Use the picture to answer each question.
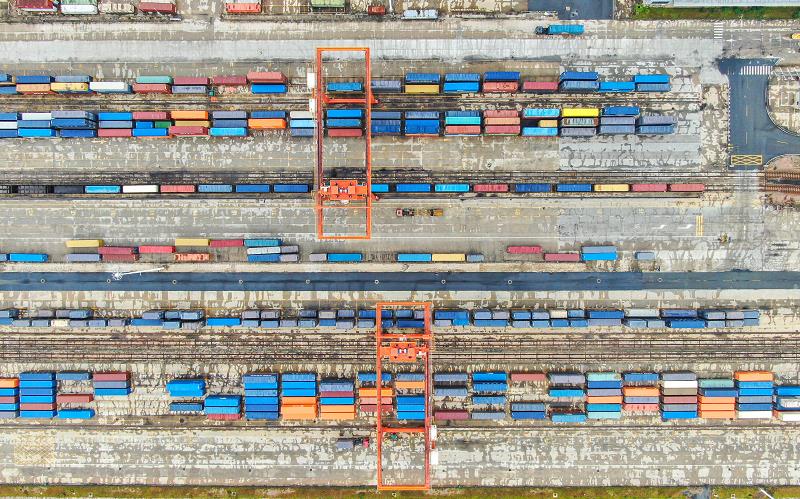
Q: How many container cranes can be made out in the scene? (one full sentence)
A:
The count of container cranes comes to 2.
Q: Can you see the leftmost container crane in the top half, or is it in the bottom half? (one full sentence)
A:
It is in the top half that the leftmost container crane appears.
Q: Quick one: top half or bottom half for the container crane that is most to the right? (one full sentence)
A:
You can find the container crane that is most to the right in the bottom half.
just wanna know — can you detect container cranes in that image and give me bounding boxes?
[308,49,380,237]
[376,303,441,488]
